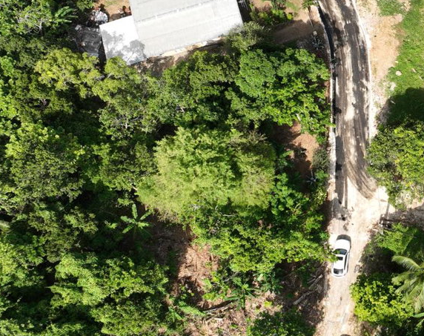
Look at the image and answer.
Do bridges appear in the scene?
No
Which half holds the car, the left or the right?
right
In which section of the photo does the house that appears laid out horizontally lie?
top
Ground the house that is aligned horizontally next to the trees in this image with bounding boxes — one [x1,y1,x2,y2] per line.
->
[95,0,248,68]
